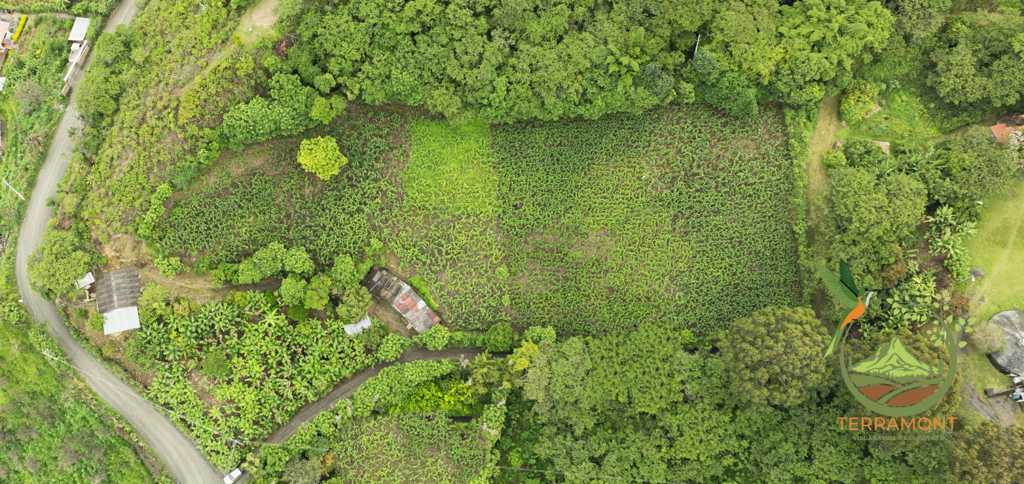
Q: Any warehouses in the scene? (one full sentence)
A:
No, I can see no warehouse in this picture.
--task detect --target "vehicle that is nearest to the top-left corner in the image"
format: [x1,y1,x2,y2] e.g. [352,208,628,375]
[68,42,82,65]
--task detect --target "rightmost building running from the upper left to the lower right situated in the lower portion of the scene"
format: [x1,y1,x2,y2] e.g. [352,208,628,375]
[363,266,441,336]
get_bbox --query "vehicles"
[223,462,249,484]
[68,42,82,65]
